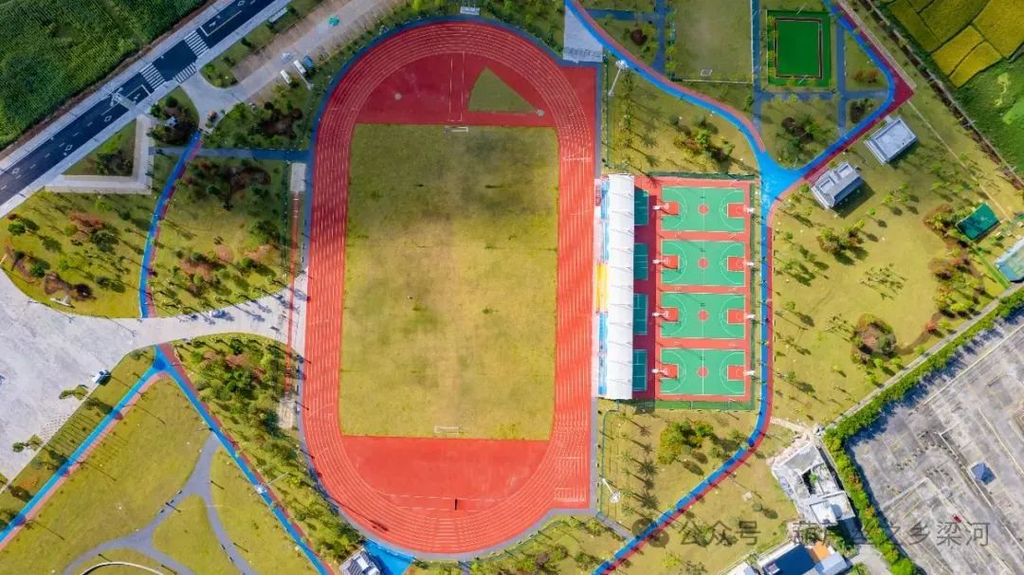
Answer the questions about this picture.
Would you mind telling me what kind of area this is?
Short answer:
sports ground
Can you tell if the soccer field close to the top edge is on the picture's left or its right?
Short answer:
right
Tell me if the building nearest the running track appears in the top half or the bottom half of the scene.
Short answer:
bottom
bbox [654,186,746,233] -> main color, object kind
green basketball court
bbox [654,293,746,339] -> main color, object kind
green basketball court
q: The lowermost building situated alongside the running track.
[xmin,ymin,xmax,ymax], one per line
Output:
[339,545,382,575]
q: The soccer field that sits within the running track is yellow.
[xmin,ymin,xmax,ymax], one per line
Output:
[338,124,560,441]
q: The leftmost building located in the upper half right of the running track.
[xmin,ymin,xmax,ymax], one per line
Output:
[809,163,858,209]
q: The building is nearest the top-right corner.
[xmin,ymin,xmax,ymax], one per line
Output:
[864,118,916,165]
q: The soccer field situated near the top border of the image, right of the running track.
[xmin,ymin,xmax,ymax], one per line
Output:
[674,0,753,83]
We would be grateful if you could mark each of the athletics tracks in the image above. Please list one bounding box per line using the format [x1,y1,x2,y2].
[303,22,595,558]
